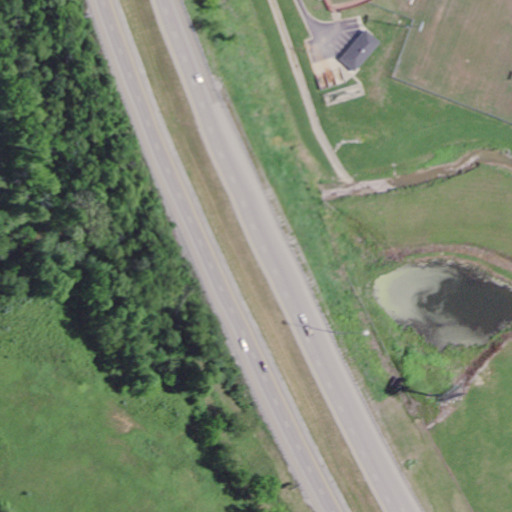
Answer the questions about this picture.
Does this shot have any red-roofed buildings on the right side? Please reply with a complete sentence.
No, the scene shows no red-roofed building on the right side.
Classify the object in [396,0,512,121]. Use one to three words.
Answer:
sports field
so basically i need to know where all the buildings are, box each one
[340,30,380,70]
